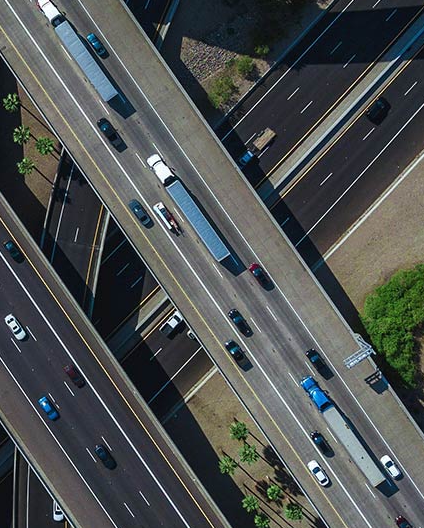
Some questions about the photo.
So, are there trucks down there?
Yes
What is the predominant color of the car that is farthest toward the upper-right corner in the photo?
black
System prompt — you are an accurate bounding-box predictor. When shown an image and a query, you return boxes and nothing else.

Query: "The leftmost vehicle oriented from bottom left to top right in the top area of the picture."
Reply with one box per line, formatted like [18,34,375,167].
[239,128,276,165]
